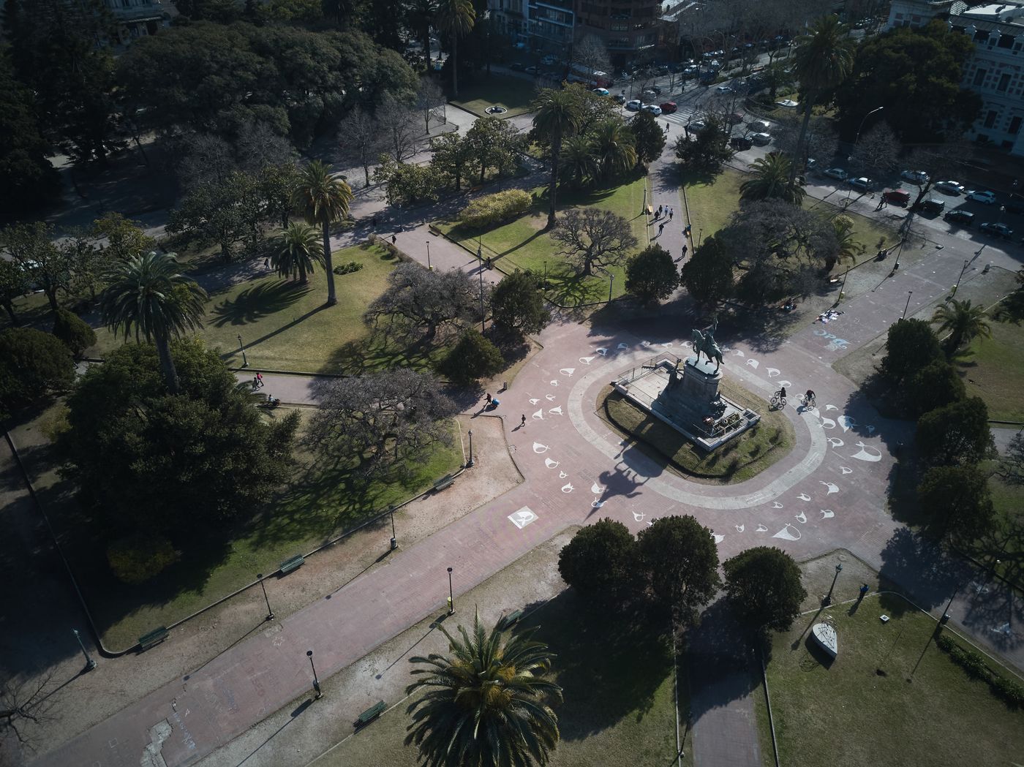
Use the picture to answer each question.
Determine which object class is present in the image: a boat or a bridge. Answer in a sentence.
There is a boat in the scene.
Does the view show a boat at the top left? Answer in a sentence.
No, there's no boat to be seen at the top left.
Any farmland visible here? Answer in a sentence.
No, there is no farmland in the image.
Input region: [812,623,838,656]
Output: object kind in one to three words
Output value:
boat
